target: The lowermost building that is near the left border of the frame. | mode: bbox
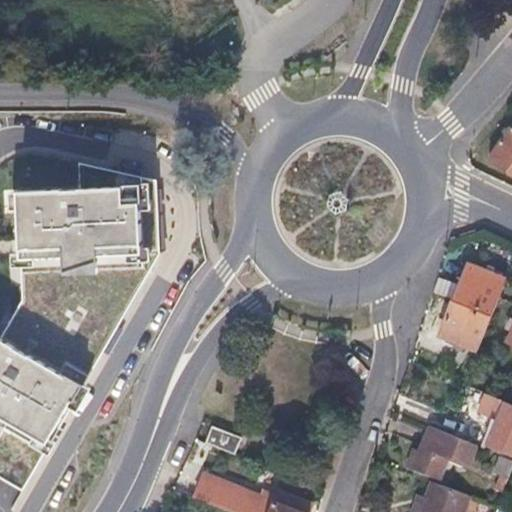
[0,340,95,454]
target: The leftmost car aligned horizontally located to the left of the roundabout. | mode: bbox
[35,120,56,132]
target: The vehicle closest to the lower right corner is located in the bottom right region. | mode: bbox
[443,415,464,430]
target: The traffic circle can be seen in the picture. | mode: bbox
[222,74,456,317]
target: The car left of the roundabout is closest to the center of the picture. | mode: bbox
[179,260,195,281]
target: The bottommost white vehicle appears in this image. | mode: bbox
[49,487,65,507]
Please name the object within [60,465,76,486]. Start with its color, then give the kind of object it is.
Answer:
white car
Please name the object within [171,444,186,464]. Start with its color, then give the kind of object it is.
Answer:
white car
